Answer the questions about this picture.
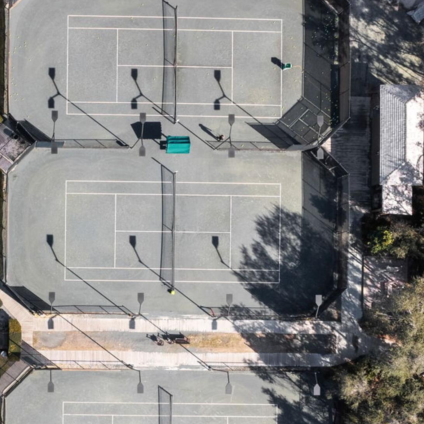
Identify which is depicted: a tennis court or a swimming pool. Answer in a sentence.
I can see a tennis court in this picture.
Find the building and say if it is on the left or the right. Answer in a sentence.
You can find the building on the right side of the picture.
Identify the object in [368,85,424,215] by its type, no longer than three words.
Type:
building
